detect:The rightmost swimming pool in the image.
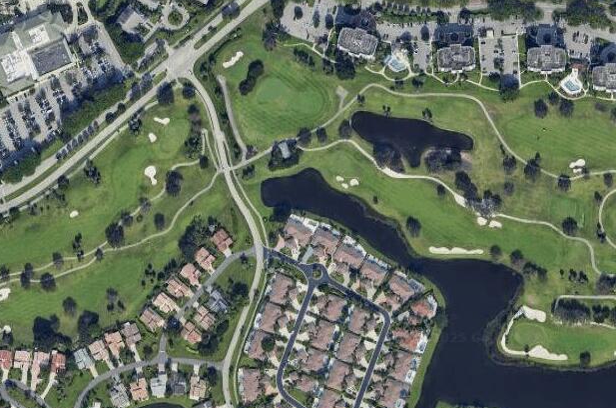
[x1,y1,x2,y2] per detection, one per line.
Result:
[565,78,581,93]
